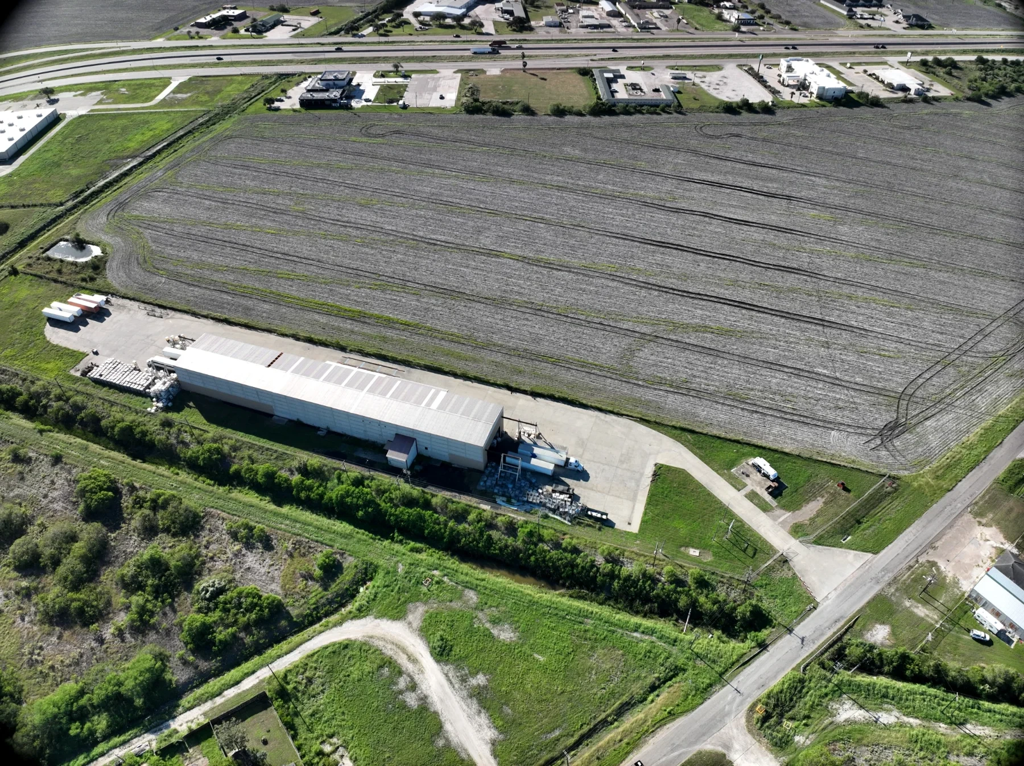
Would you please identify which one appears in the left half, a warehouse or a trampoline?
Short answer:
warehouse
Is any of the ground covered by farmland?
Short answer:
Yes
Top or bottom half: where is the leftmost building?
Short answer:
top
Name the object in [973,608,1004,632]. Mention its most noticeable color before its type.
white vehicle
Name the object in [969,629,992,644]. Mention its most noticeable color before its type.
white vehicle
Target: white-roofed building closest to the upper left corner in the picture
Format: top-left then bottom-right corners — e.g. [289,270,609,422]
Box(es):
[0,106,56,160]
